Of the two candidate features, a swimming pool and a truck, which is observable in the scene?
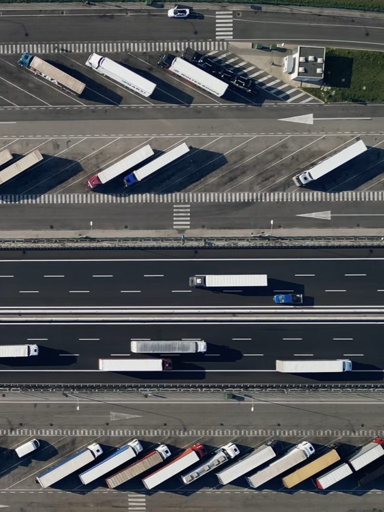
truck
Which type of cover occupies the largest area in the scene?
paved ground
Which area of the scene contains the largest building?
top right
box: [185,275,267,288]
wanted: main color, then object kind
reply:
white vehicle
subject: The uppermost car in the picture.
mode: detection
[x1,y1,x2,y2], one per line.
[168,5,190,17]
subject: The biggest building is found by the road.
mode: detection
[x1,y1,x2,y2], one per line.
[291,45,326,81]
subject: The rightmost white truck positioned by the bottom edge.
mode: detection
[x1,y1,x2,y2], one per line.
[311,436,384,489]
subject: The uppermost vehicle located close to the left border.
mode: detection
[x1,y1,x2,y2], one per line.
[15,53,85,98]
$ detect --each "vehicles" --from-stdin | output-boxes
[130,339,207,353]
[14,438,41,458]
[0,149,14,166]
[192,59,211,73]
[275,359,351,372]
[311,436,384,489]
[140,442,207,489]
[208,66,226,81]
[0,150,43,184]
[152,54,227,98]
[214,439,284,485]
[185,275,267,288]
[119,142,191,190]
[36,440,103,488]
[102,443,170,489]
[168,5,190,17]
[224,75,243,89]
[277,440,344,488]
[289,140,367,190]
[0,344,39,358]
[177,440,241,484]
[81,144,155,193]
[77,437,143,485]
[82,54,156,98]
[240,82,258,96]
[15,53,85,98]
[273,294,303,304]
[242,439,314,488]
[99,358,172,371]
[351,456,384,487]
